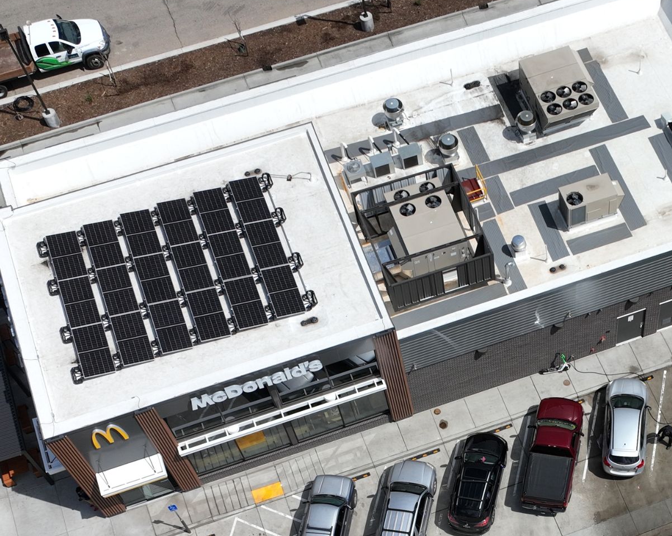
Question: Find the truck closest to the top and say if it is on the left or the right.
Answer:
left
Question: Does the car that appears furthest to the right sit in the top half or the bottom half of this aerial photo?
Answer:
bottom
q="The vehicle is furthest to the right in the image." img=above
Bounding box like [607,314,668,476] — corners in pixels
[602,380,654,478]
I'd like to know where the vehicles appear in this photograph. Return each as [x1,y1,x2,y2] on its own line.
[375,458,437,536]
[523,394,586,514]
[296,472,356,536]
[0,15,113,84]
[447,431,510,536]
[602,380,654,478]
